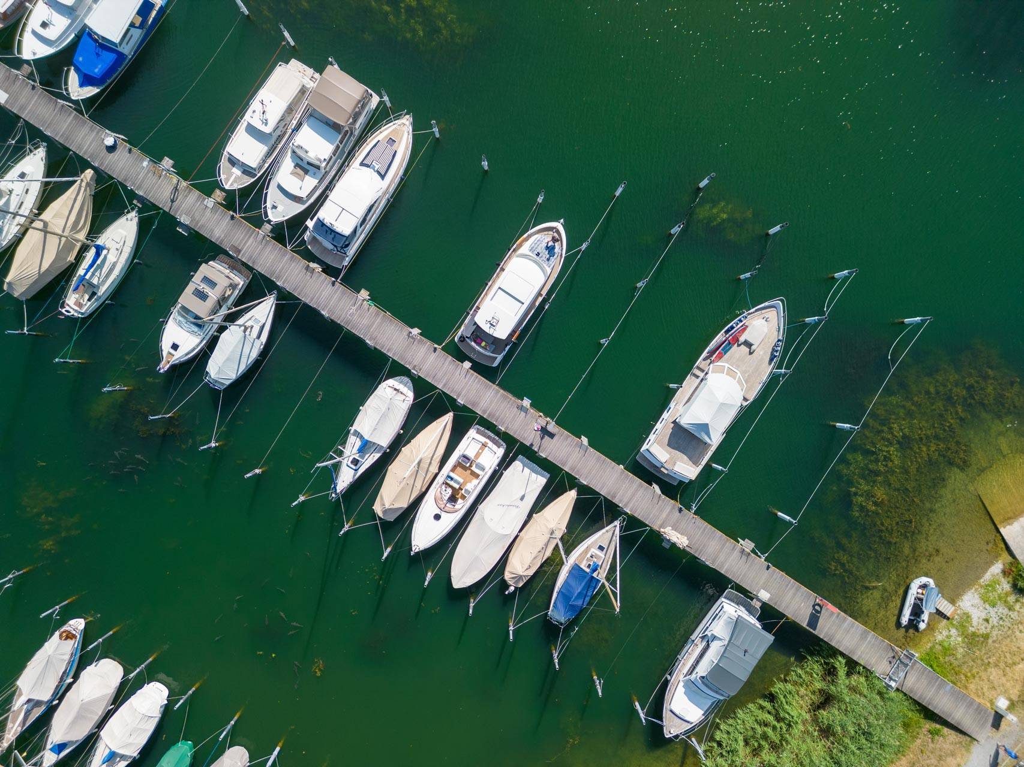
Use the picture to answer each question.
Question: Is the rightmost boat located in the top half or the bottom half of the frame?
bottom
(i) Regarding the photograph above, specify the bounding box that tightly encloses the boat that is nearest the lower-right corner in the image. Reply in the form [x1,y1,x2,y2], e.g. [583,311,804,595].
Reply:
[891,576,934,637]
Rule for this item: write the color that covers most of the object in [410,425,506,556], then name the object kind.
white boat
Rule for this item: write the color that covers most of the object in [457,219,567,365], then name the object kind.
white boat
